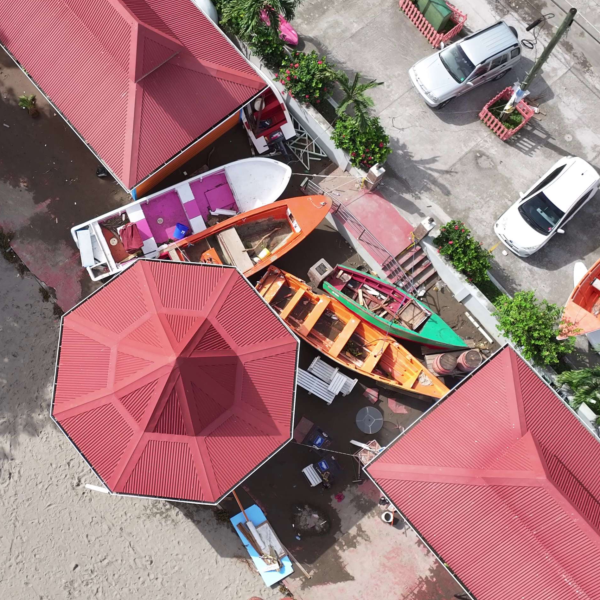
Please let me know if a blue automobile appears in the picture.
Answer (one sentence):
No, I can't see a single blue automobile in this photo.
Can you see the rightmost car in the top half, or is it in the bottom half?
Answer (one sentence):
Seen from above, the rightmost car lies in the top half of the view.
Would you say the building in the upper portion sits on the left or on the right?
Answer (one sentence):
You can find the building in the upper portion on the left side of the picture.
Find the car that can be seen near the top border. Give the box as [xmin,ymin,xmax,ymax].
[410,7,533,106]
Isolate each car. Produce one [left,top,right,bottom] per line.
[410,7,533,106]
[493,146,600,258]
